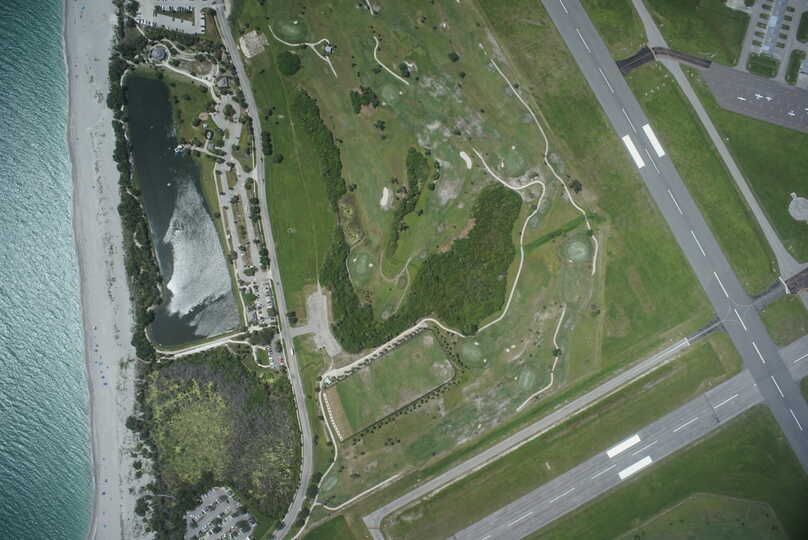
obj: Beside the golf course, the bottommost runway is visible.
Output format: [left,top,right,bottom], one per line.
[445,369,765,540]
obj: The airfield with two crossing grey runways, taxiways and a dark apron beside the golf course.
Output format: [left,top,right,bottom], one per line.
[321,0,808,540]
